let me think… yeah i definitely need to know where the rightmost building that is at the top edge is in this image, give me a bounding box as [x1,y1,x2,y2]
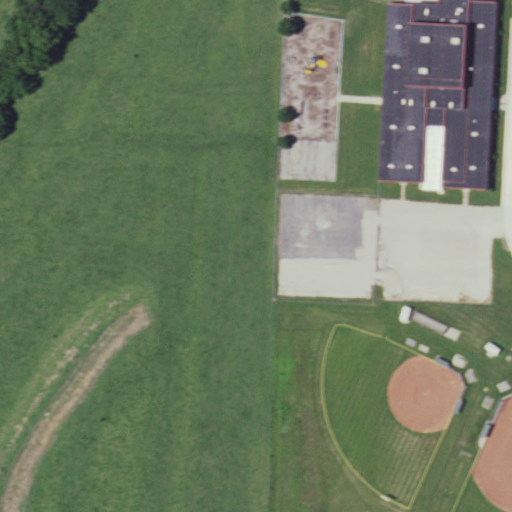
[378,0,498,194]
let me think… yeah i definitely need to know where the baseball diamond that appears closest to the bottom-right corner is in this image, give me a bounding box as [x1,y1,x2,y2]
[452,394,512,512]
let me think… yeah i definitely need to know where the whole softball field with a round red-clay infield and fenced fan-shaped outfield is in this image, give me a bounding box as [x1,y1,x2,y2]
[320,322,466,510]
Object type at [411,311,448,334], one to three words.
shed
